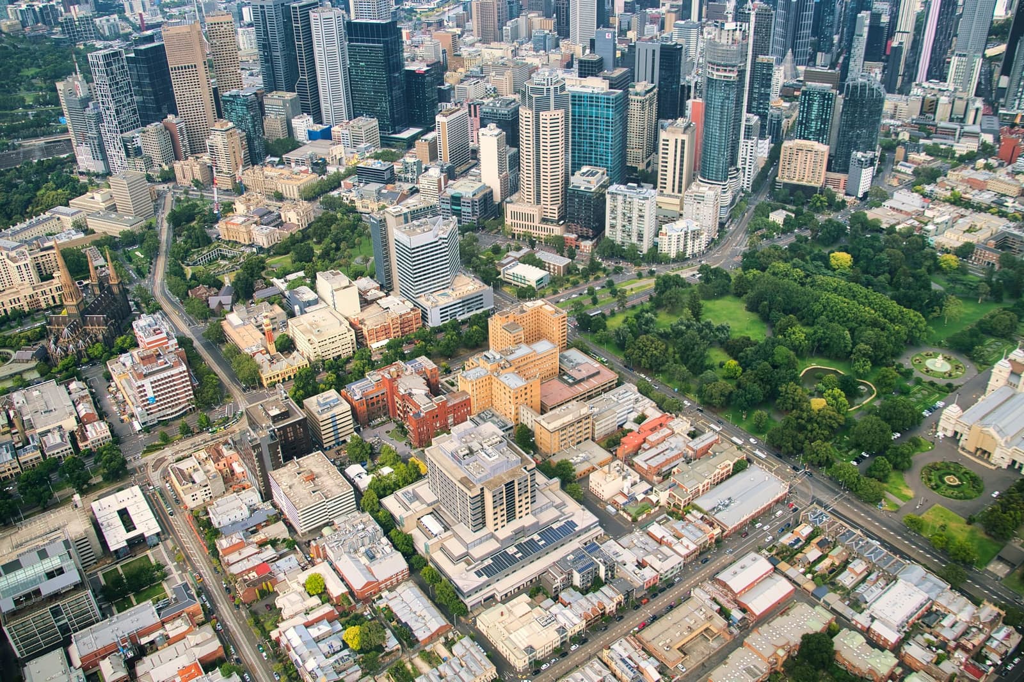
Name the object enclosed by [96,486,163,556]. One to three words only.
building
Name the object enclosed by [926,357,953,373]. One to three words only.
fountain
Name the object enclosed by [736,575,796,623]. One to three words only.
shed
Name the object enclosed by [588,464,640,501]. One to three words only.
house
